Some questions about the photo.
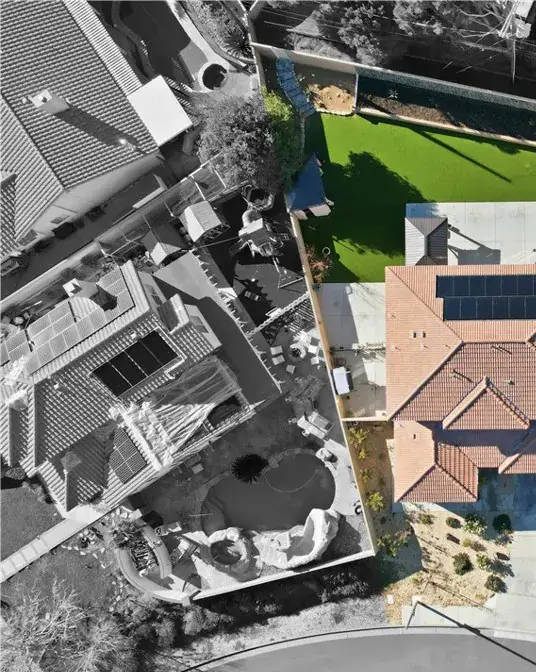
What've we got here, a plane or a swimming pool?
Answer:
swimming pool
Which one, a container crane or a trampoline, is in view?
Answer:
trampoline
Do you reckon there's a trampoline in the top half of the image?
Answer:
Yes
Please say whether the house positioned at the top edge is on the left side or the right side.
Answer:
left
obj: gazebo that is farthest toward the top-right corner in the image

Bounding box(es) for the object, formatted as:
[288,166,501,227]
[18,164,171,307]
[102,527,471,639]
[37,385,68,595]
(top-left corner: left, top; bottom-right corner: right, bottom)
[406,217,447,265]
